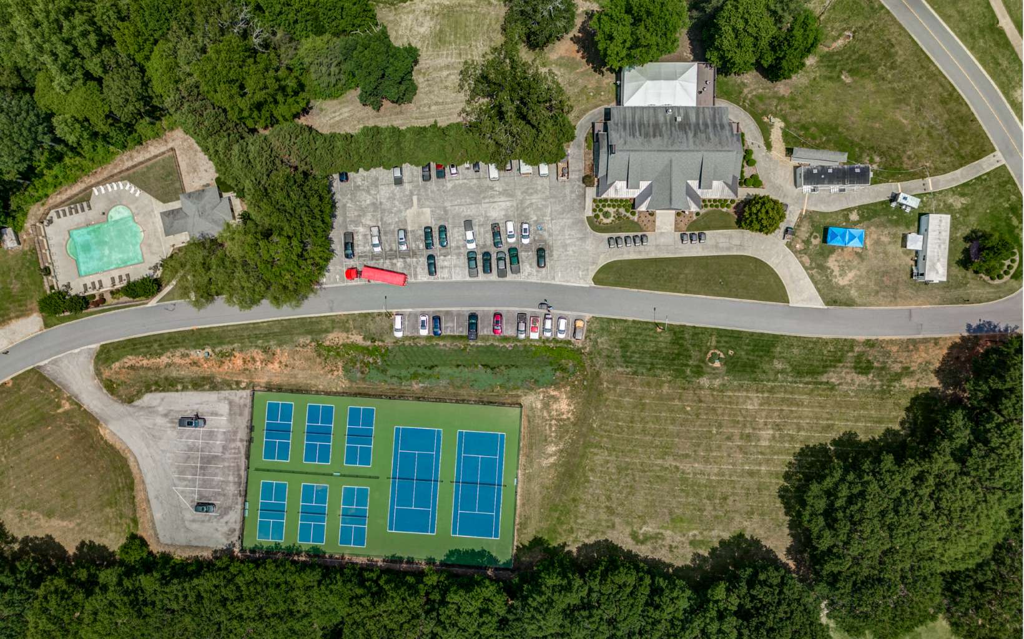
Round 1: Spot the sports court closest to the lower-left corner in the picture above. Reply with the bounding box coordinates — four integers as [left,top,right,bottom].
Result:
[257,481,288,542]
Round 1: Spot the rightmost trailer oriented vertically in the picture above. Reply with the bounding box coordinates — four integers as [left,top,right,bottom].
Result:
[916,214,950,284]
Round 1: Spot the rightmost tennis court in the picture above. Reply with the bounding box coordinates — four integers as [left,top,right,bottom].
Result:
[451,430,506,539]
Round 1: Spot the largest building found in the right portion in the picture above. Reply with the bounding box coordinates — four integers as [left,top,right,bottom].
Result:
[592,106,742,211]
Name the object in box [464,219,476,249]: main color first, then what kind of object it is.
white vehicle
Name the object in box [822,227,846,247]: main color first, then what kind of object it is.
blue tent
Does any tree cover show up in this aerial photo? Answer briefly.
Yes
